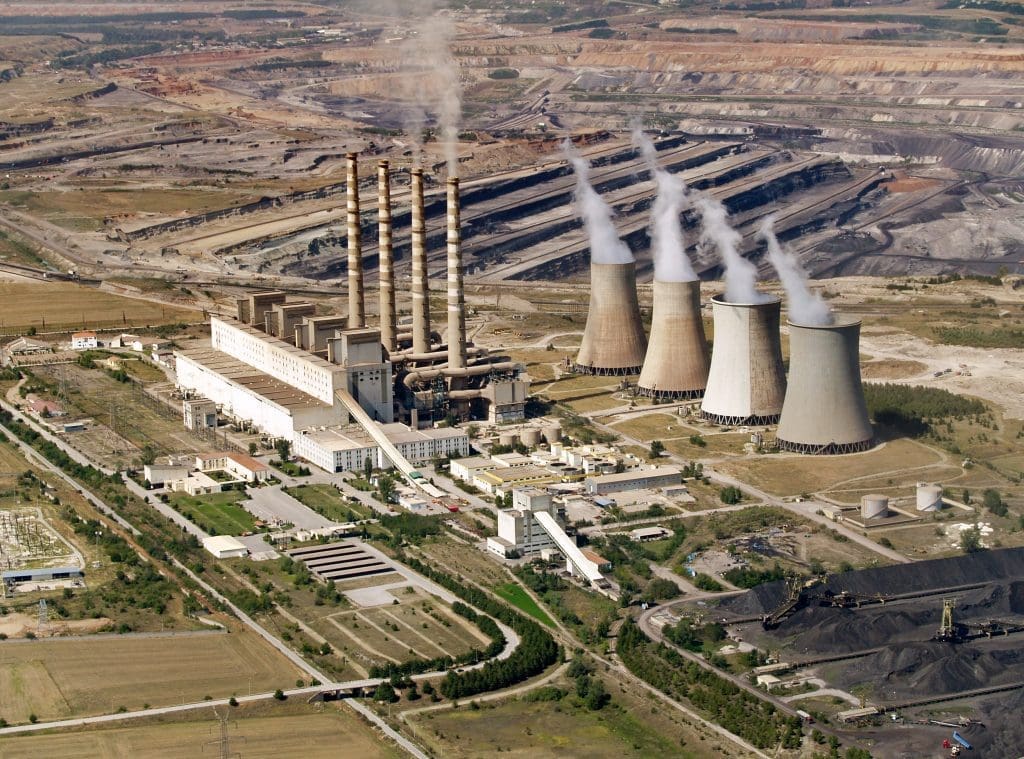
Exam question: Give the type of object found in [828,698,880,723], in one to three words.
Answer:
house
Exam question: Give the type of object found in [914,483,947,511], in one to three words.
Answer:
storage tank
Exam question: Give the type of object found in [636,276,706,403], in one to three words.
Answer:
cooling tower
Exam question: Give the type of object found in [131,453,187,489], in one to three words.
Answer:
building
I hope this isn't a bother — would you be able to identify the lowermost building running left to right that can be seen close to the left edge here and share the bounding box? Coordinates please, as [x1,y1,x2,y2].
[3,565,96,590]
